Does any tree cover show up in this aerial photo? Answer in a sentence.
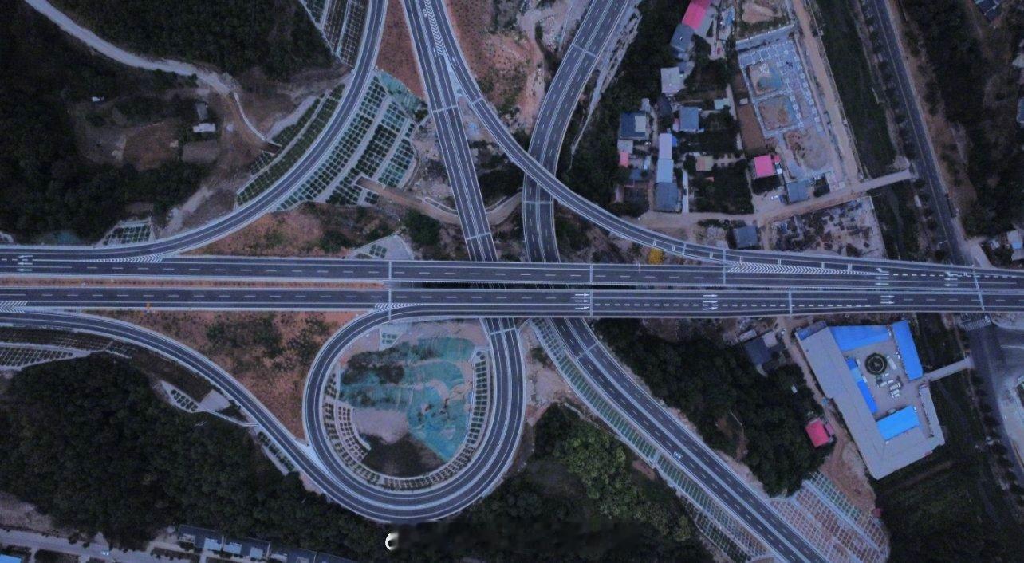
Yes, there's tree cover in this view.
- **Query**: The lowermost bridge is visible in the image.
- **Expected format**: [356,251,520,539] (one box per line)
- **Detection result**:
[919,355,978,381]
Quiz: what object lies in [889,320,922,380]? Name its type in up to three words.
shed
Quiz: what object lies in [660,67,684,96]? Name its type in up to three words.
house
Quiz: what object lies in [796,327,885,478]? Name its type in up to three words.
building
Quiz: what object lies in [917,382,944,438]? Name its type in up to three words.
building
